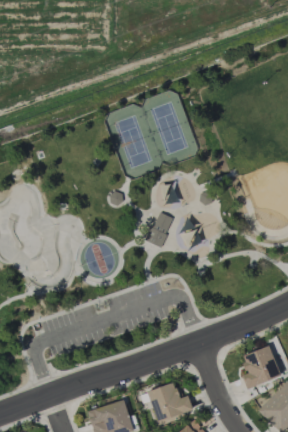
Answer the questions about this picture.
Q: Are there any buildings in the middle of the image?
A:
Yes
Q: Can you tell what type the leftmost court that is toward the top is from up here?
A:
tennis court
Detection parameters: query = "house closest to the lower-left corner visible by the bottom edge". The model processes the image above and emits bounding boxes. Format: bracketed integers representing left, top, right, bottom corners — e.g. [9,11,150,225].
[88,398,134,432]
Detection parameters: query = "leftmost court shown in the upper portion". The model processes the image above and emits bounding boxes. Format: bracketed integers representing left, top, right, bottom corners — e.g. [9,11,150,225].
[108,104,162,178]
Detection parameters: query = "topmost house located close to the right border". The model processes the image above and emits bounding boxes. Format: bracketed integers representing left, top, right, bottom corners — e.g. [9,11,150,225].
[240,346,280,389]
